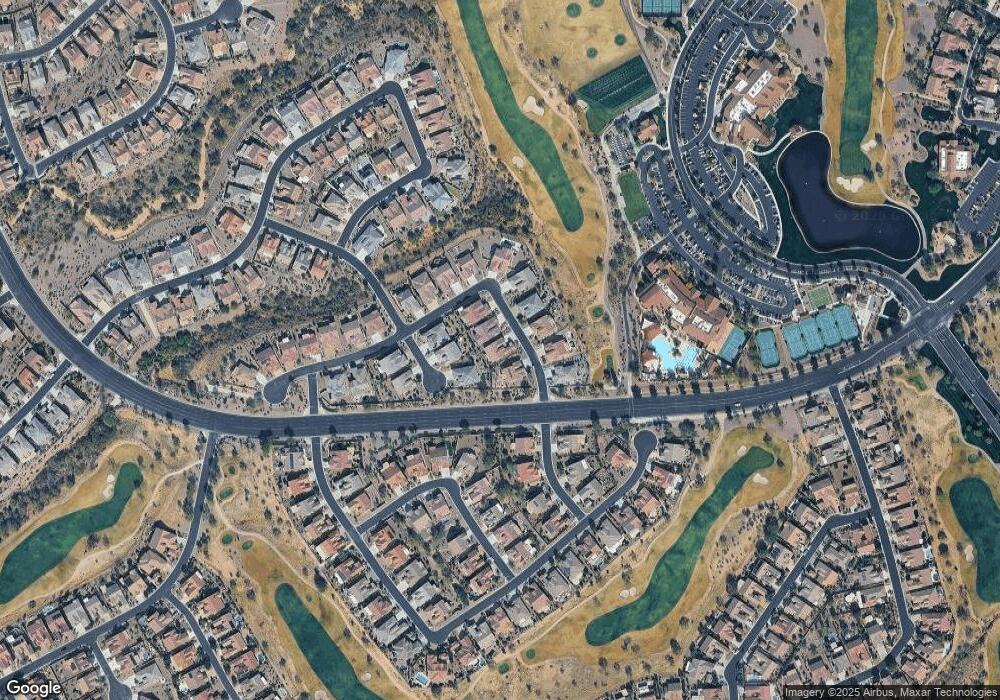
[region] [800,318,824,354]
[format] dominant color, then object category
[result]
blue tennis court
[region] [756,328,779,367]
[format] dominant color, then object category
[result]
blue tennis court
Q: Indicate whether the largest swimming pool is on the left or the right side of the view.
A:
right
